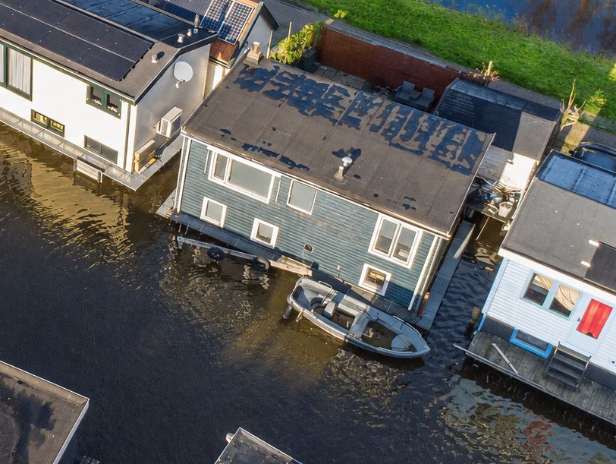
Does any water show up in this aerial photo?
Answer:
Yes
